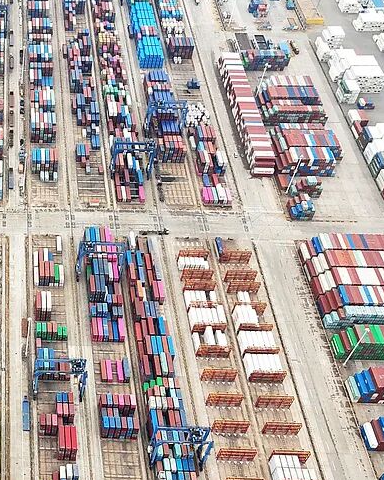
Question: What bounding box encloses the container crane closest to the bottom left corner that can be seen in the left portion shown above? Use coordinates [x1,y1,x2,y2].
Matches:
[32,355,87,399]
